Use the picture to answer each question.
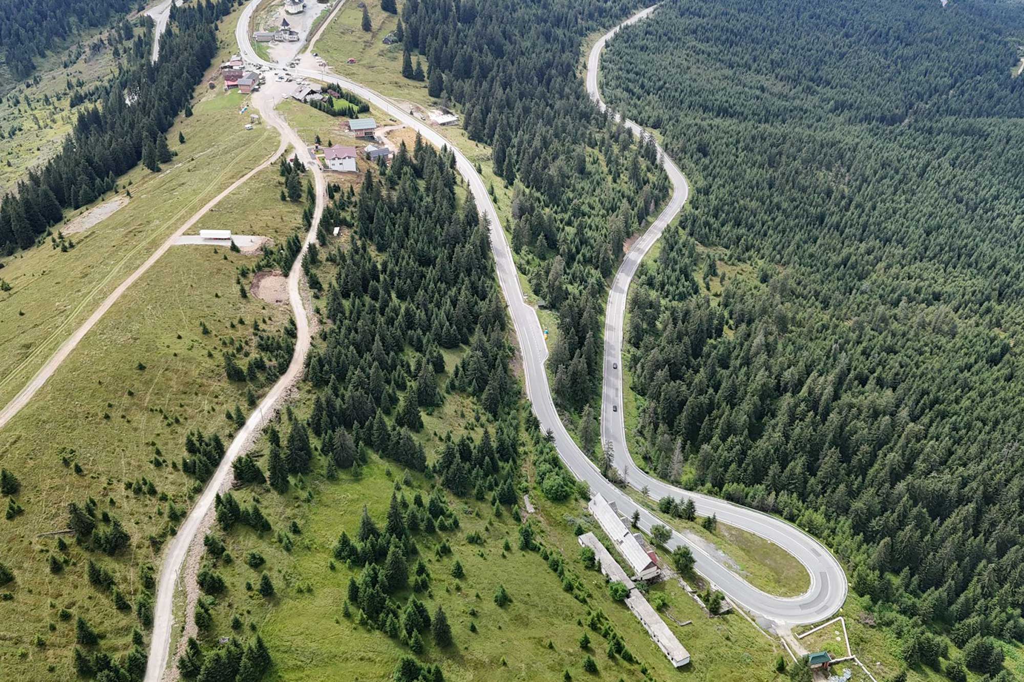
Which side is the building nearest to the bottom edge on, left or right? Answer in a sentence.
You can find the building nearest to the bottom edge on the right side of the picture.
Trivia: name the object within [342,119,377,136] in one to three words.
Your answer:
house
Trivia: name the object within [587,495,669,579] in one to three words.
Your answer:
building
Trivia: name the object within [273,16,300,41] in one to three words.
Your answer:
building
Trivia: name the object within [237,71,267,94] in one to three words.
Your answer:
house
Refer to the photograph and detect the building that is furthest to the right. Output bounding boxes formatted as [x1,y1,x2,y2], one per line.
[804,648,833,668]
